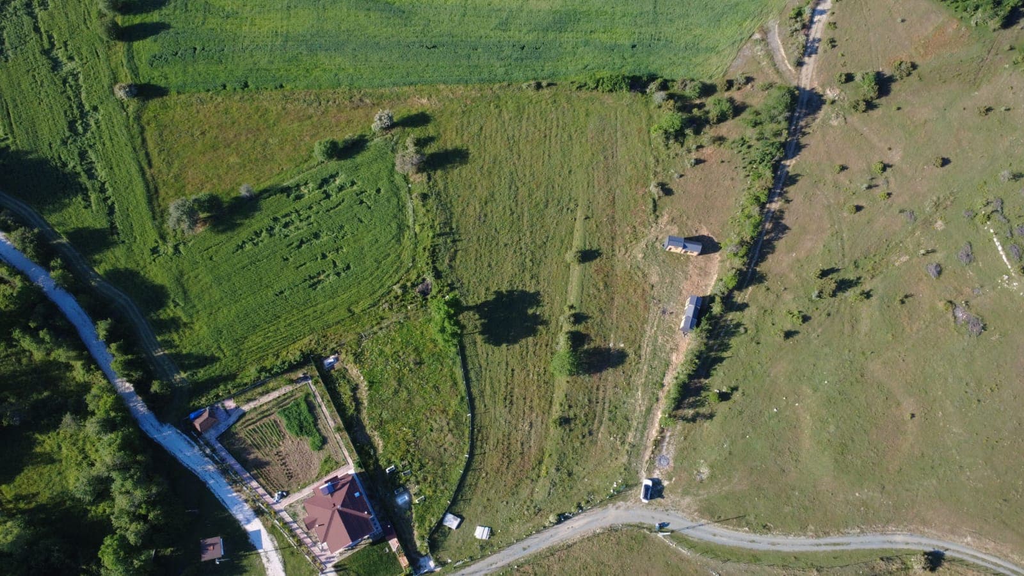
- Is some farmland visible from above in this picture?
Yes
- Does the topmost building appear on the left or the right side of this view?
right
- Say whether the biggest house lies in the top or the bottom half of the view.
bottom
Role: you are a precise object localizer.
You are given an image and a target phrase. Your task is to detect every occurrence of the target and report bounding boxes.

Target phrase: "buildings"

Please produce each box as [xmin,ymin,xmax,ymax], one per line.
[201,536,228,561]
[681,294,703,336]
[661,232,704,255]
[302,474,386,555]
[194,409,222,434]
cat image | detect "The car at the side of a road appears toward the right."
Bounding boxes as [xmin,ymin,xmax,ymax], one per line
[639,476,656,504]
